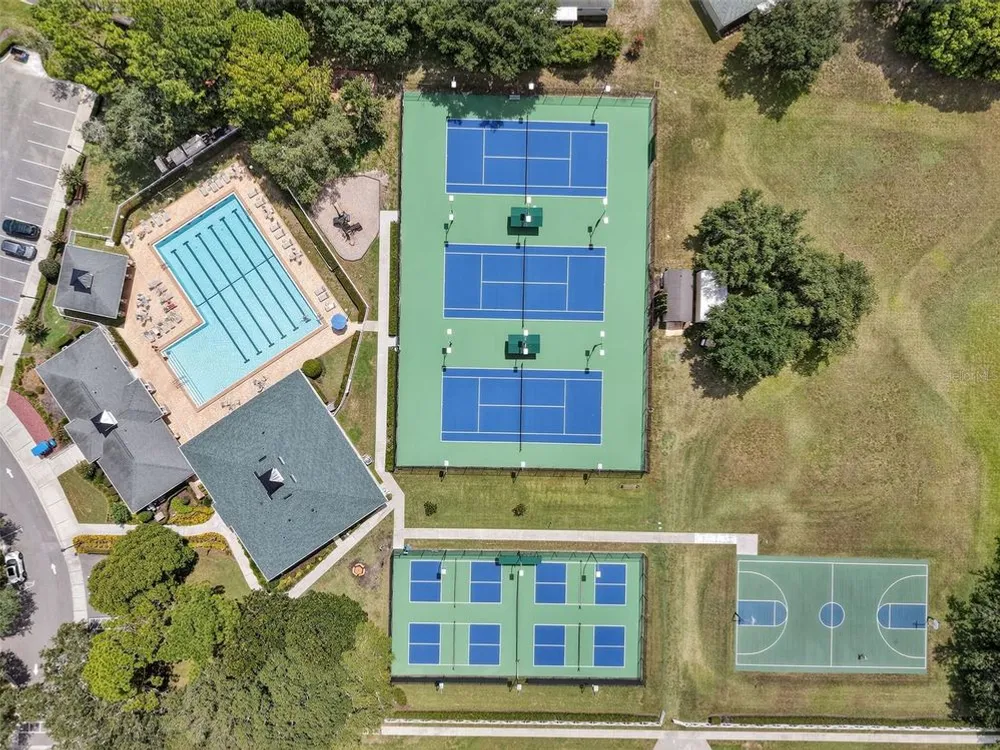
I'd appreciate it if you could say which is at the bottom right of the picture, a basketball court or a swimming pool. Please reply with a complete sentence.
There is a basketball court at the bottom right of the picture.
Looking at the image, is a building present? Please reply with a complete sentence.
Yes, I can see a building in this picture.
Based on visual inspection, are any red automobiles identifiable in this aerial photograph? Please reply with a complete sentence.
No, the scene contains no red automobile.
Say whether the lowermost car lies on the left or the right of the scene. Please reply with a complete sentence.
The lowermost car appears in the left half of the scene.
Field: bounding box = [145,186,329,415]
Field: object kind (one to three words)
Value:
swimming pool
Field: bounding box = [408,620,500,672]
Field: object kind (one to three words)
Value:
sports court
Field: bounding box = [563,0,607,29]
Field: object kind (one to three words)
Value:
house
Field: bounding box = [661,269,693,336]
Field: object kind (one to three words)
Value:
shed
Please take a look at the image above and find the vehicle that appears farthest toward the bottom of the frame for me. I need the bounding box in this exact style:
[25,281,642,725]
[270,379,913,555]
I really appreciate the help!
[4,552,25,585]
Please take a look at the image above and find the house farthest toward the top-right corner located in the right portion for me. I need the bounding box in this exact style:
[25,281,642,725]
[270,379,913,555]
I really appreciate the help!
[697,0,774,35]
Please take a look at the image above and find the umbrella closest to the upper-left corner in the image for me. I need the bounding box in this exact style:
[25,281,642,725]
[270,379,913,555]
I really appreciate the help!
[331,313,348,329]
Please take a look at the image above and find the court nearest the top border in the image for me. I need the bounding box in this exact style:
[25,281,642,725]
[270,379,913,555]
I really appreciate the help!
[445,111,608,202]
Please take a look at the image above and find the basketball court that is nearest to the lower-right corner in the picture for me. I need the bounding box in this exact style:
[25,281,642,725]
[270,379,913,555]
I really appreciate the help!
[735,554,929,677]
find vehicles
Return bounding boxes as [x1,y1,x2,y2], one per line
[0,240,36,260]
[25,438,58,460]
[4,552,25,585]
[4,220,39,240]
